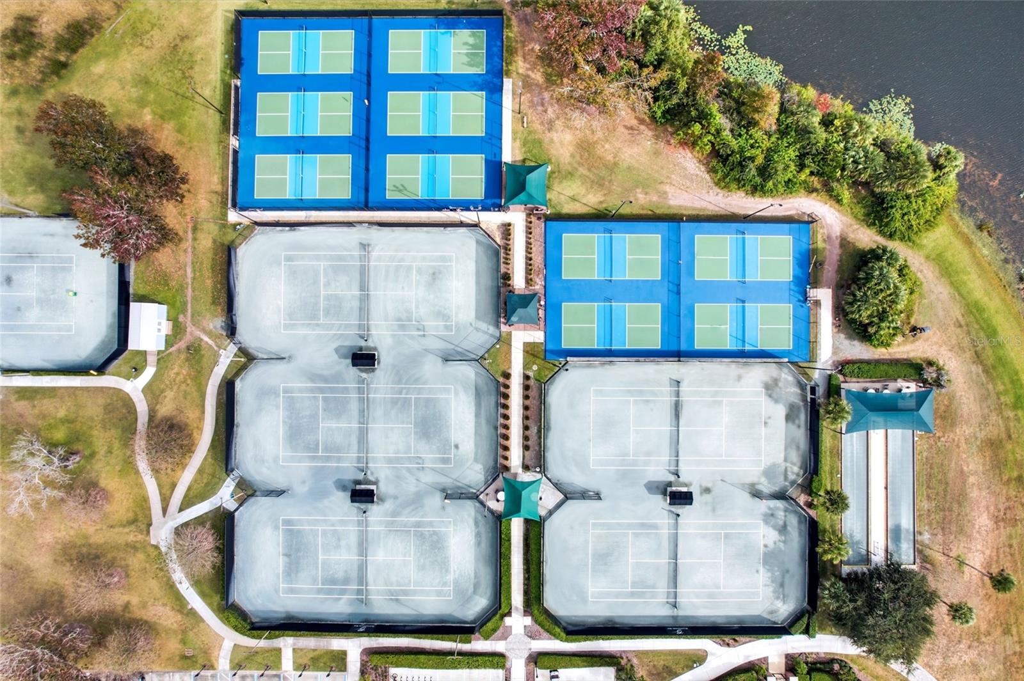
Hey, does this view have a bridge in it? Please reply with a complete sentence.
No, I find no bridge anywhere in the image.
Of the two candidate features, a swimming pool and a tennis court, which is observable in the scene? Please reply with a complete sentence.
This aerial view contains a tennis court.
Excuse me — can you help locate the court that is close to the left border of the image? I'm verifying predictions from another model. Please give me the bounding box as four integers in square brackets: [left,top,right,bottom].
[0,218,129,370]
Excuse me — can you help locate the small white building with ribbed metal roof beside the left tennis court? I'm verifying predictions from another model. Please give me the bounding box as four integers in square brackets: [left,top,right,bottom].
[128,302,176,350]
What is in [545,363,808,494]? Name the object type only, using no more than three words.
tennis court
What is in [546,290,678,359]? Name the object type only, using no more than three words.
sports court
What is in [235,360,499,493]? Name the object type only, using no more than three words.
tennis court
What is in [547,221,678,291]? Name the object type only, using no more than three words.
sports court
